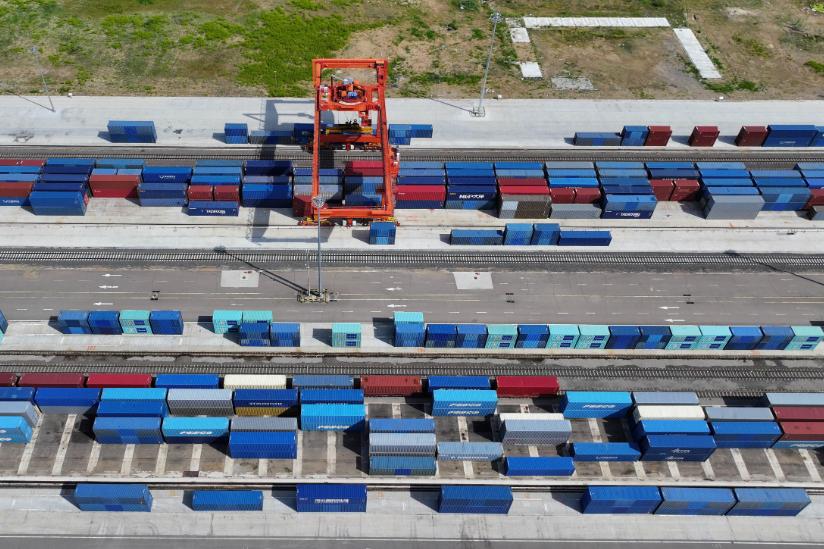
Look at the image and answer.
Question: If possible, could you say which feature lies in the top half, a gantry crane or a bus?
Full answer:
What appears in the top half is a gantry crane.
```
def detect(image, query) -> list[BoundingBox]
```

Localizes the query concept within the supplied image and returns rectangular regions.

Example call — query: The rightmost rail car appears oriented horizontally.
[492,384,563,397]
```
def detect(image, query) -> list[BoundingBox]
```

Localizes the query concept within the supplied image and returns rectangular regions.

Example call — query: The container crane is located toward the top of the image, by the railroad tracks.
[298,57,402,228]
